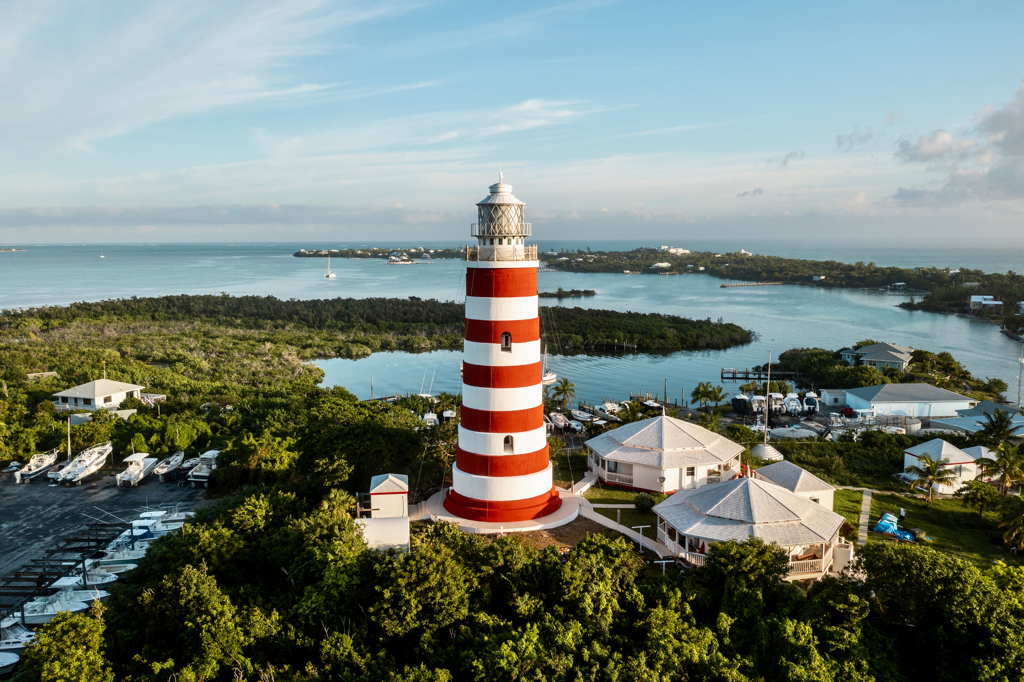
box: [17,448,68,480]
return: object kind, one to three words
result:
boat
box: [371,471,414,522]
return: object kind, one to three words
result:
building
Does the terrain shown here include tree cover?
Yes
